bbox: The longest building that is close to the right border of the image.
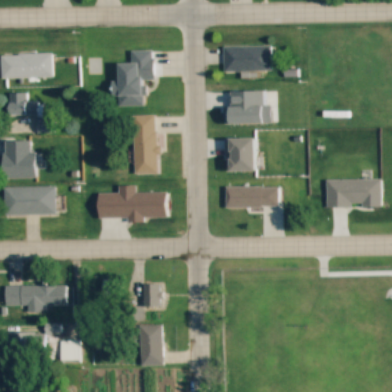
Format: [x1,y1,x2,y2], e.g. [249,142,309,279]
[327,180,384,208]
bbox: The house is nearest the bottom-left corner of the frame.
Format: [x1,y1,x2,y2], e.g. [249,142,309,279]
[16,332,46,350]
